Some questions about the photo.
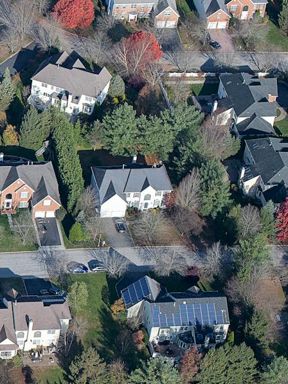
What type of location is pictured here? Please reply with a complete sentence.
This image shows a residential area.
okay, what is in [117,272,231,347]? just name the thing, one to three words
house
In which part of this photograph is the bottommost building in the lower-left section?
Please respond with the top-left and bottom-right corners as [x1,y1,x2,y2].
[0,285,72,359]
